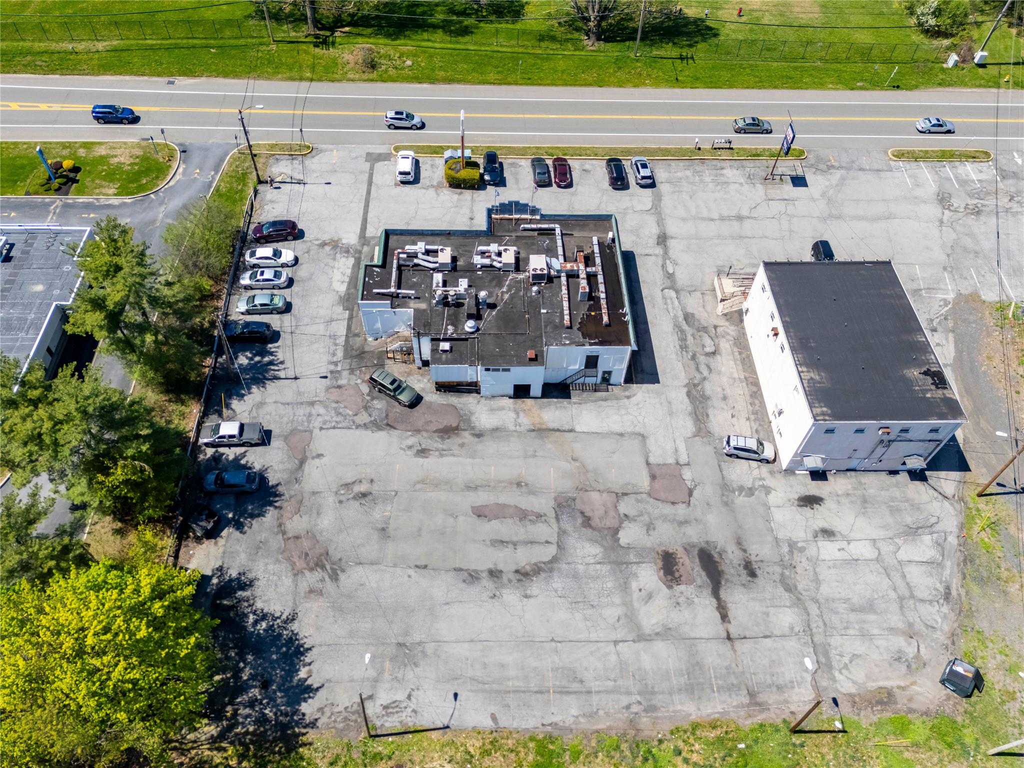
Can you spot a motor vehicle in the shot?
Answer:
Yes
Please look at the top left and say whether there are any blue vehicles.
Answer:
Yes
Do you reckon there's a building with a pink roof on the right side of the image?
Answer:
No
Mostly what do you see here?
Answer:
paved ground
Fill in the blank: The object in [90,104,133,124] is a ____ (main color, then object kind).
blue car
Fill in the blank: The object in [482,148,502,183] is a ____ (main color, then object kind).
black car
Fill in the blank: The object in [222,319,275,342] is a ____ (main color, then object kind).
black car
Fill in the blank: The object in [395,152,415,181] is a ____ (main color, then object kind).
white car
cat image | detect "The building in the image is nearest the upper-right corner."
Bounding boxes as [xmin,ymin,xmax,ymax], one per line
[745,255,967,474]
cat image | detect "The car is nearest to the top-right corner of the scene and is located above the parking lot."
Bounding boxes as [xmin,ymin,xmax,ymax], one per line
[916,117,958,134]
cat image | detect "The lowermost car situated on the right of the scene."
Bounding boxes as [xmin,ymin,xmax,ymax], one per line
[724,435,779,464]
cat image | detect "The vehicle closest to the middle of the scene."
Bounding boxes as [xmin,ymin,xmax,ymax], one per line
[367,366,420,408]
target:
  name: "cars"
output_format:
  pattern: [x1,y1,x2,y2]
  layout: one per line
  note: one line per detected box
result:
[553,156,572,186]
[90,104,133,124]
[395,152,415,181]
[806,234,837,257]
[385,109,422,128]
[724,435,779,464]
[632,157,656,185]
[244,247,293,267]
[482,148,502,183]
[531,158,550,186]
[367,366,420,408]
[916,117,958,134]
[234,292,285,314]
[734,116,774,133]
[250,219,297,241]
[607,158,628,187]
[238,267,287,288]
[222,319,275,342]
